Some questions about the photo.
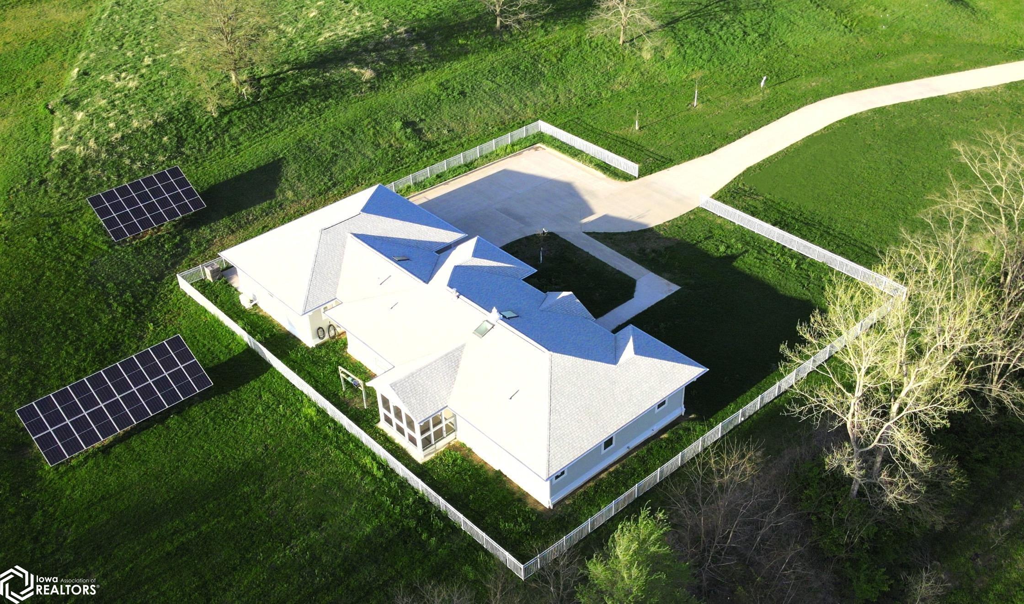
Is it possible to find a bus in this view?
No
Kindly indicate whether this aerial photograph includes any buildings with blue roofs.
No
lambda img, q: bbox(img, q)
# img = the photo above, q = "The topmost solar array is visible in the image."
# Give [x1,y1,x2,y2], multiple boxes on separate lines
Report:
[86,168,209,243]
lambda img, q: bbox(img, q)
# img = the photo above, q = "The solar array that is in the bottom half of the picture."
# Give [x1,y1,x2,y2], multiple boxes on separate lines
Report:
[17,334,212,466]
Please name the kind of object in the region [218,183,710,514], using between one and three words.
house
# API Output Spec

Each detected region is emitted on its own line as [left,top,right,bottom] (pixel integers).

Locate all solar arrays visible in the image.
[86,168,209,243]
[17,334,212,466]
